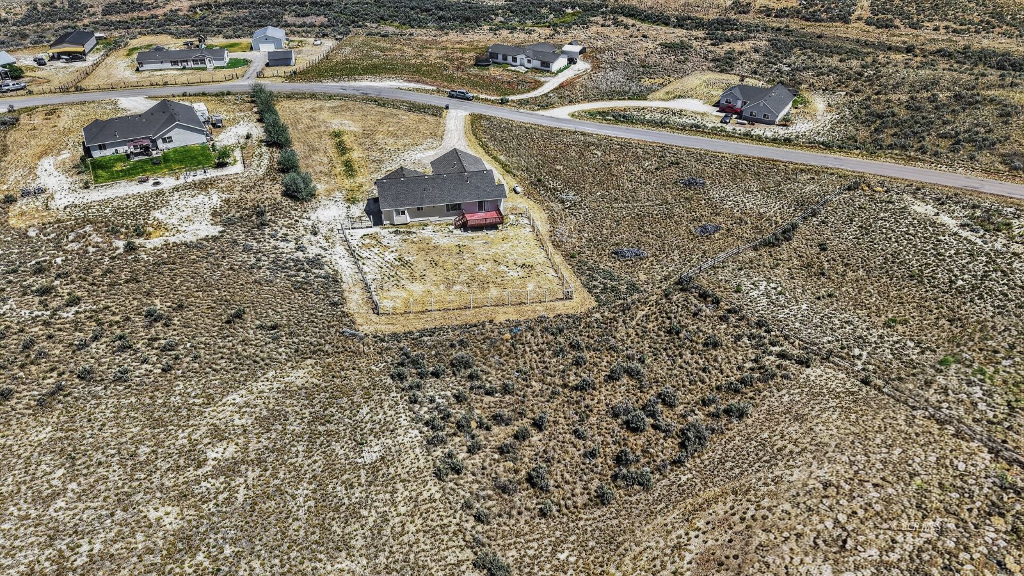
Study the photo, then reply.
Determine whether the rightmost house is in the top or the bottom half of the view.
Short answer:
top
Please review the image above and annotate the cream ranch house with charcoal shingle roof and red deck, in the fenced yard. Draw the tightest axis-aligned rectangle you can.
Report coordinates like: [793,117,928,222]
[373,147,508,225]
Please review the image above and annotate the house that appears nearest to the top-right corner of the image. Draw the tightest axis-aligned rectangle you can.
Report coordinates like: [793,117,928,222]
[717,83,810,125]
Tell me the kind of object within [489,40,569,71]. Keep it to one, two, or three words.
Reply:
house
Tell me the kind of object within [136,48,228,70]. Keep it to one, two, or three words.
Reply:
house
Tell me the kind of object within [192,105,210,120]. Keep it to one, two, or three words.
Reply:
vehicle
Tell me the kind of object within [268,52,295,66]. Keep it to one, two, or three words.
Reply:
shed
